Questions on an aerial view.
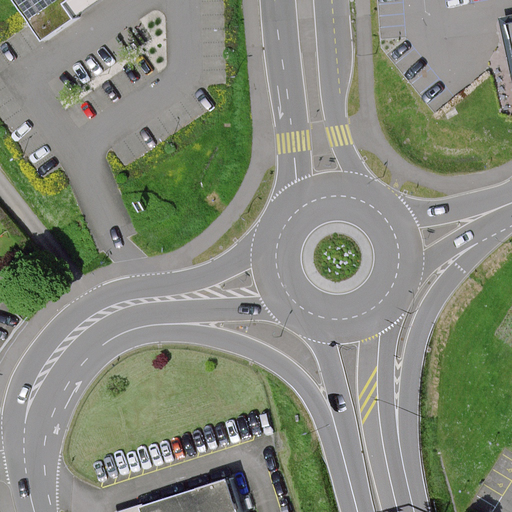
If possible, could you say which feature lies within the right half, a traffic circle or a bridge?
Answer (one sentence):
Visible within the right half is a traffic circle.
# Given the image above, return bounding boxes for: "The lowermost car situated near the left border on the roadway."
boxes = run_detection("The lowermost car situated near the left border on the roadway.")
[18,478,30,499]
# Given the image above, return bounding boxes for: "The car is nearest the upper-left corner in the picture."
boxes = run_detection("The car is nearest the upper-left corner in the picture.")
[1,41,18,62]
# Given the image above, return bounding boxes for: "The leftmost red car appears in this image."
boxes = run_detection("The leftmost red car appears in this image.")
[81,101,98,119]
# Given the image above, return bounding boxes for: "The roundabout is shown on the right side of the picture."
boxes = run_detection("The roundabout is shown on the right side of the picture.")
[254,173,422,342]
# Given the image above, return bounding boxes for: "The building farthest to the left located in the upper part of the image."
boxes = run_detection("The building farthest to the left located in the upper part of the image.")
[12,0,77,42]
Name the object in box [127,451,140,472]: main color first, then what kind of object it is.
white vehicle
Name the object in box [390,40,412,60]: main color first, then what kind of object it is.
gray car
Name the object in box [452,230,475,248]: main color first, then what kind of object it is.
white car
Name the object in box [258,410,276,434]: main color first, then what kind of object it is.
white vehicle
